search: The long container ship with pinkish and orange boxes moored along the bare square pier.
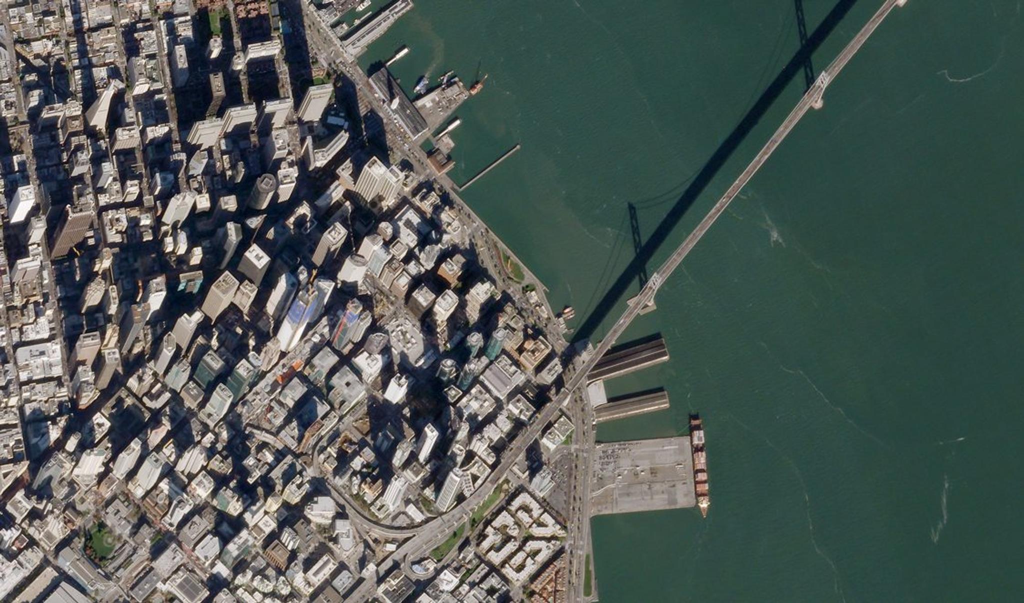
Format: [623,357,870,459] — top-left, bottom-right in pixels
[691,412,710,518]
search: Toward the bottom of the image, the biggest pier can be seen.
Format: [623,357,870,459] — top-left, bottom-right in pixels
[589,435,696,518]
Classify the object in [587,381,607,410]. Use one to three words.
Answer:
shed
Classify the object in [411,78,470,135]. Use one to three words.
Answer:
pier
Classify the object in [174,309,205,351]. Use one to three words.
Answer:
building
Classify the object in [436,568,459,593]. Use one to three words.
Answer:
building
